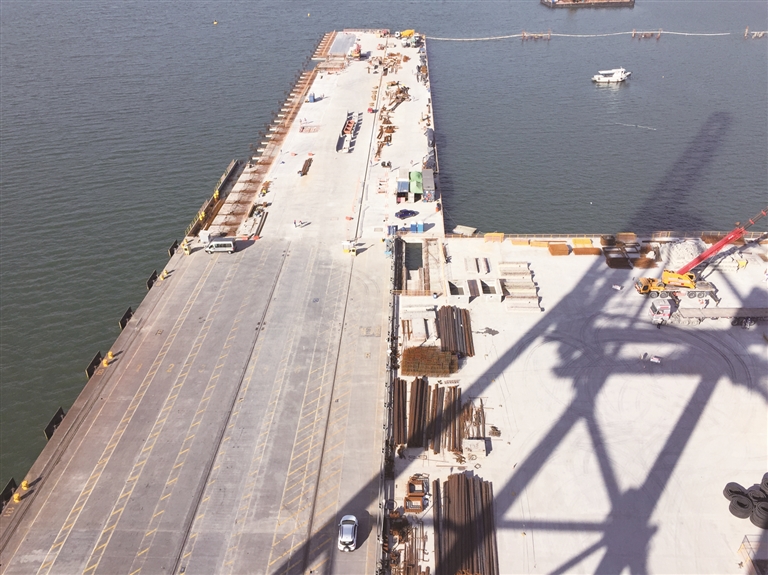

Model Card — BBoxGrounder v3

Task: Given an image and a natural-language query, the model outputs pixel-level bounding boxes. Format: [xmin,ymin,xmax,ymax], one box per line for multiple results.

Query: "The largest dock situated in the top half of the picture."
[214,30,443,244]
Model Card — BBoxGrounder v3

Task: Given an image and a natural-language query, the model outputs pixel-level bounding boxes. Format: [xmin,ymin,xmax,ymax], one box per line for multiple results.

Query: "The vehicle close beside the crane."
[646,296,768,325]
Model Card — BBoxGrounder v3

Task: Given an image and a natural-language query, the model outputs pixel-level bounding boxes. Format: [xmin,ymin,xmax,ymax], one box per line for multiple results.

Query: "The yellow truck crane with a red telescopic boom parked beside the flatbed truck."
[631,205,768,305]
